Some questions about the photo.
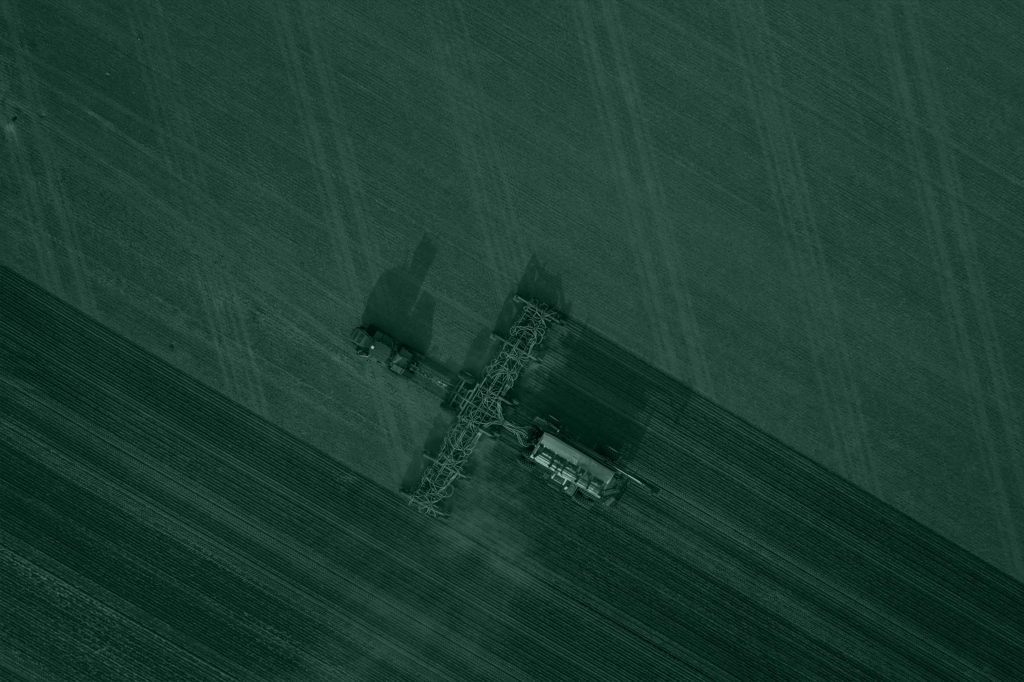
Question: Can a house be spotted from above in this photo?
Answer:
No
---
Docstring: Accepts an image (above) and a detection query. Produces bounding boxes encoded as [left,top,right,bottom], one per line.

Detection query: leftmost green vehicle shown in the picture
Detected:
[352,324,427,383]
